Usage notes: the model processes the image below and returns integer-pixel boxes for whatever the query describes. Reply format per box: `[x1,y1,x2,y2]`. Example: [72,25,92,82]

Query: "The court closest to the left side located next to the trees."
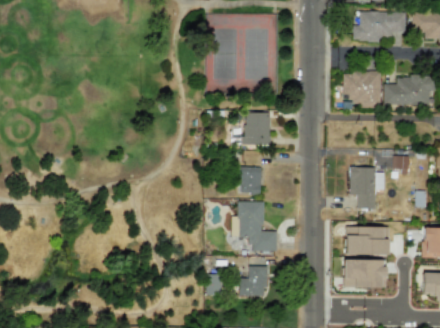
[206,14,240,95]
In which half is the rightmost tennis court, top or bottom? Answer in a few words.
top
